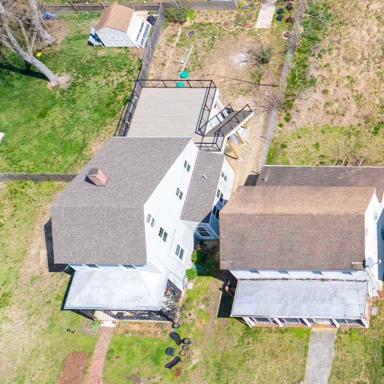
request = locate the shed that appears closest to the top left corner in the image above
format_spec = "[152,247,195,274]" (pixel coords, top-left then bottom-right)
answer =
[95,3,141,44]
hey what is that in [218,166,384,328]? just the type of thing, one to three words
house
